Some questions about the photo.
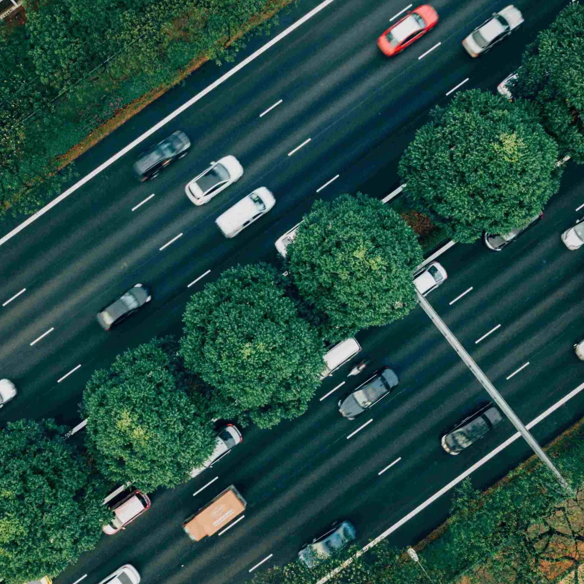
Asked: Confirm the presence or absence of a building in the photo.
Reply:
No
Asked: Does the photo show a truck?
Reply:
Yes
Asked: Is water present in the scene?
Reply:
No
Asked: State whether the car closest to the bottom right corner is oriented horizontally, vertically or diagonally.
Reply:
diagonally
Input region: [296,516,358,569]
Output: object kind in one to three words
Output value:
car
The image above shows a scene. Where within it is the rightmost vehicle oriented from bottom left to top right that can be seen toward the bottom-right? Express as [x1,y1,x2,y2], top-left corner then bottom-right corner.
[440,401,503,456]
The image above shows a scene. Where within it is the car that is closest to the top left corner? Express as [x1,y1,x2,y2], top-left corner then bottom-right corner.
[132,131,193,183]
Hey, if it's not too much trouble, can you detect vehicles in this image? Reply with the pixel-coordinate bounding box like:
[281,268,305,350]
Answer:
[440,401,503,456]
[104,485,156,535]
[461,7,522,59]
[338,366,400,419]
[557,216,584,252]
[185,485,245,542]
[214,188,276,239]
[0,377,20,408]
[132,131,193,183]
[396,260,449,311]
[16,569,54,584]
[185,156,244,206]
[377,6,439,59]
[570,334,584,362]
[186,425,246,477]
[95,282,155,332]
[95,561,140,584]
[306,337,364,389]
[276,208,312,254]
[296,516,358,569]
